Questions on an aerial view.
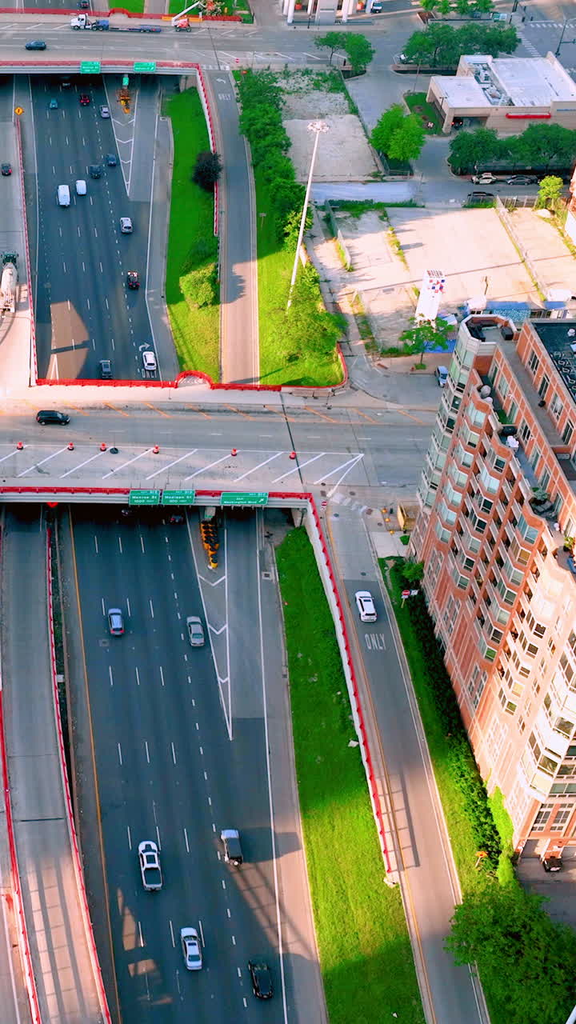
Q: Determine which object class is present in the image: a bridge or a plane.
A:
bridge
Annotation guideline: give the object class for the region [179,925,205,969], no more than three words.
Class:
car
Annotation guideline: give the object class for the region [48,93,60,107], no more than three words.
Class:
vehicle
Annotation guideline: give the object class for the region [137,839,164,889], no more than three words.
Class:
truck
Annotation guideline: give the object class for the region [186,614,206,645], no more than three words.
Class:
car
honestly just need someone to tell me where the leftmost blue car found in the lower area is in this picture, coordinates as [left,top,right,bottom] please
[107,605,126,636]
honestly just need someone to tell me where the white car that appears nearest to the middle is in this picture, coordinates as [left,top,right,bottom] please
[354,588,380,621]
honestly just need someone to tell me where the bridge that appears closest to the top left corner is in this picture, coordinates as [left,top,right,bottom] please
[0,6,264,98]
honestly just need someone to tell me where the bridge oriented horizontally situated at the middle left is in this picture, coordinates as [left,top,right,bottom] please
[0,366,311,523]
